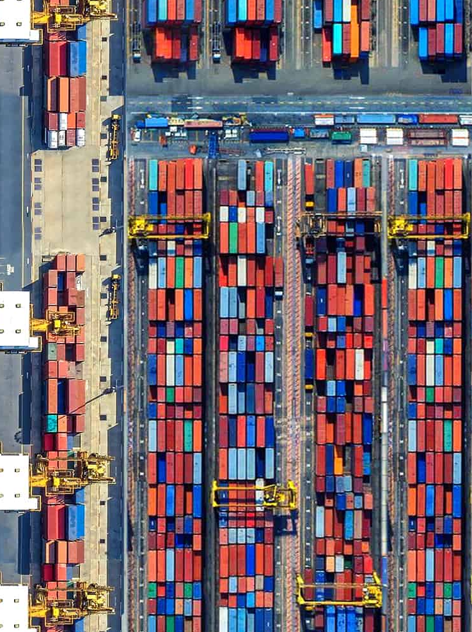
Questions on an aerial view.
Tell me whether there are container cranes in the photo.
Yes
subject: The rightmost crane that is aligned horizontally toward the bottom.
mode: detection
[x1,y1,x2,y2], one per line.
[289,575,385,604]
